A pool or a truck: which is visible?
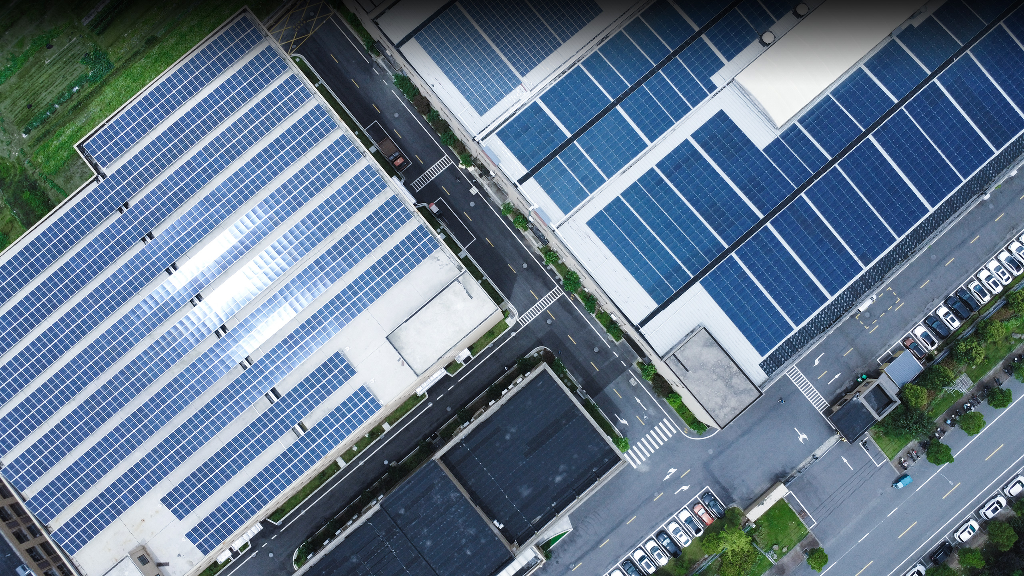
truck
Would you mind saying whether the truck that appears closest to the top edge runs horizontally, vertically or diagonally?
diagonally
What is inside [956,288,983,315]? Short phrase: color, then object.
black car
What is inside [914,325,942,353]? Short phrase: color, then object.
white car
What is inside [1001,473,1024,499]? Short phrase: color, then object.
white car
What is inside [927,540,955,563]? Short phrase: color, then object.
black car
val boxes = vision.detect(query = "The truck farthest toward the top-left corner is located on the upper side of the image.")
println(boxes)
[376,136,411,174]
